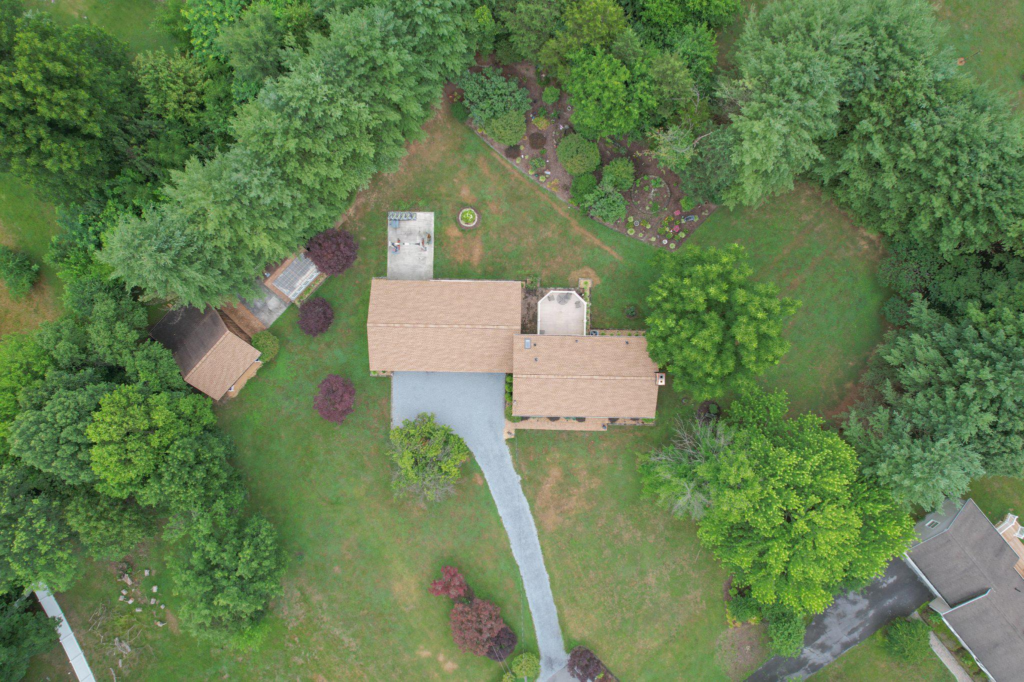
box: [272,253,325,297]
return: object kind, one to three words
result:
greenhouse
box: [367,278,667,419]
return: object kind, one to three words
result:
house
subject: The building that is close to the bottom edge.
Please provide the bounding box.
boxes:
[901,498,1024,682]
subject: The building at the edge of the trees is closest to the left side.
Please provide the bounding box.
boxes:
[151,283,263,401]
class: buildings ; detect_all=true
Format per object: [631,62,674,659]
[901,498,1024,682]
[367,278,667,419]
[272,253,325,297]
[151,283,263,401]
